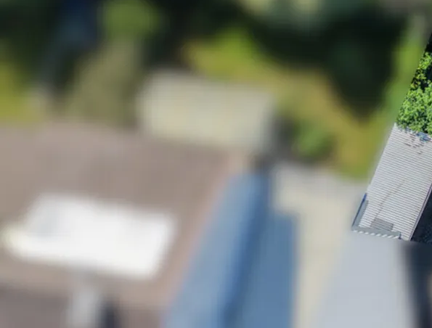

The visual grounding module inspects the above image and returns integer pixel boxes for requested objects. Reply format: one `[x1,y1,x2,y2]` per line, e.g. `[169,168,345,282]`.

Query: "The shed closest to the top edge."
[135,72,293,142]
